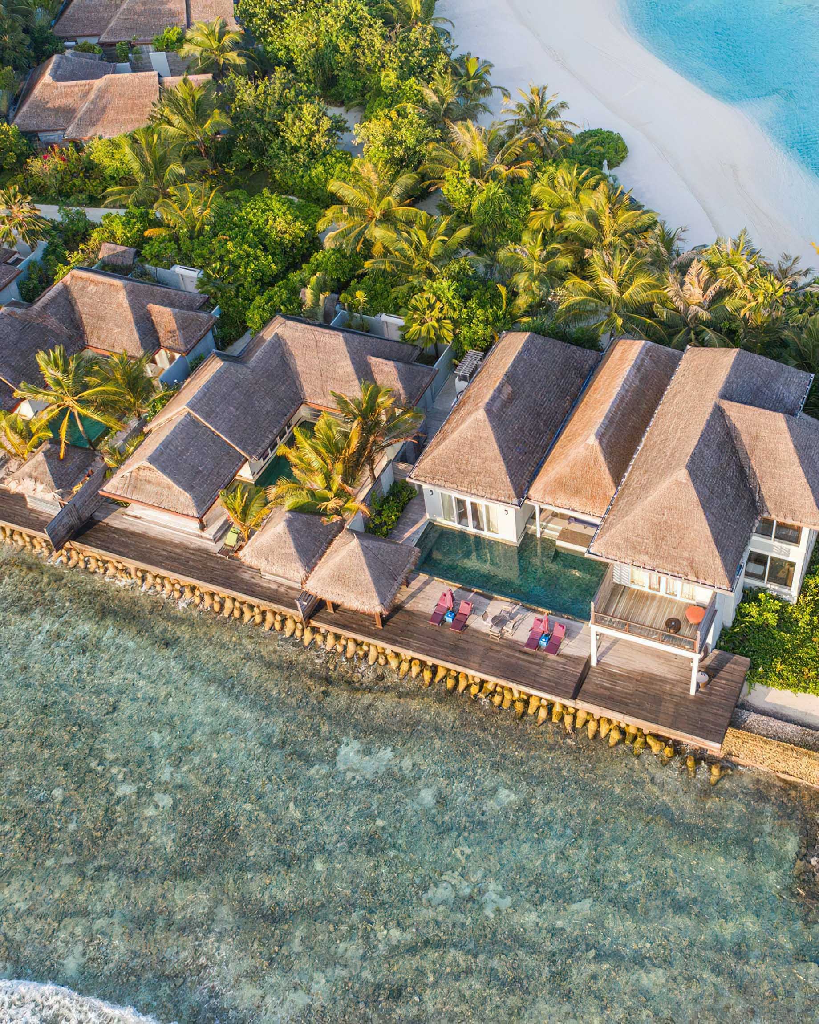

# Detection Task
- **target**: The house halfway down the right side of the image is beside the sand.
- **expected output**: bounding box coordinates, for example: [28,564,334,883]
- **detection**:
[584,345,819,696]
